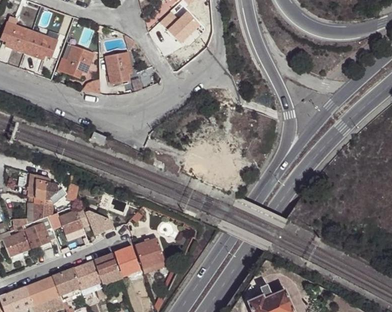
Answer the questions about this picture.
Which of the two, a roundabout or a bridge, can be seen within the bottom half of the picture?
bridge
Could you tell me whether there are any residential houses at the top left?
Yes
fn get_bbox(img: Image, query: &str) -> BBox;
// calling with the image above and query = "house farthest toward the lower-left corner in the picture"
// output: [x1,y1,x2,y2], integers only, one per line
[0,286,33,312]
